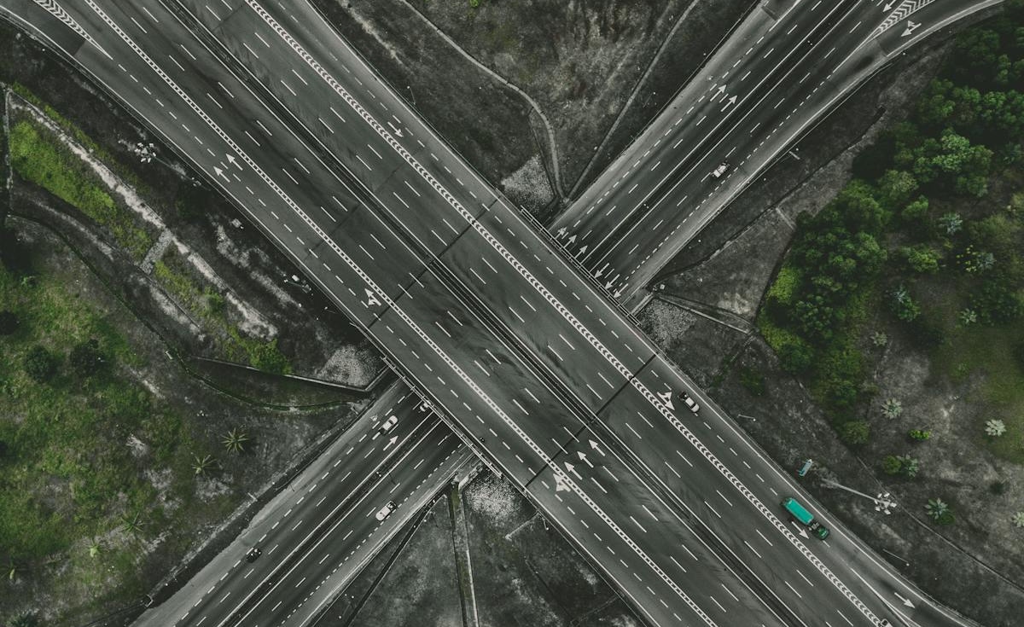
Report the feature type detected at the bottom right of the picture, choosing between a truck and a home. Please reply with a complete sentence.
Visible at the bottom right of the picture is a truck.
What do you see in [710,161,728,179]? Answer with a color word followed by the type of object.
white car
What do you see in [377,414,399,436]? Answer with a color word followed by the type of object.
white truck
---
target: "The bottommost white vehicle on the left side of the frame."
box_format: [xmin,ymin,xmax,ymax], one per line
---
[376,499,398,521]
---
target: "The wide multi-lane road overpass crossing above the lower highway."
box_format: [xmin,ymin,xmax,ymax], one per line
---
[358,190,665,496]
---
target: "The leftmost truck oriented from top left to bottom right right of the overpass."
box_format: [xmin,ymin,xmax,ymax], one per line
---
[678,391,701,413]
